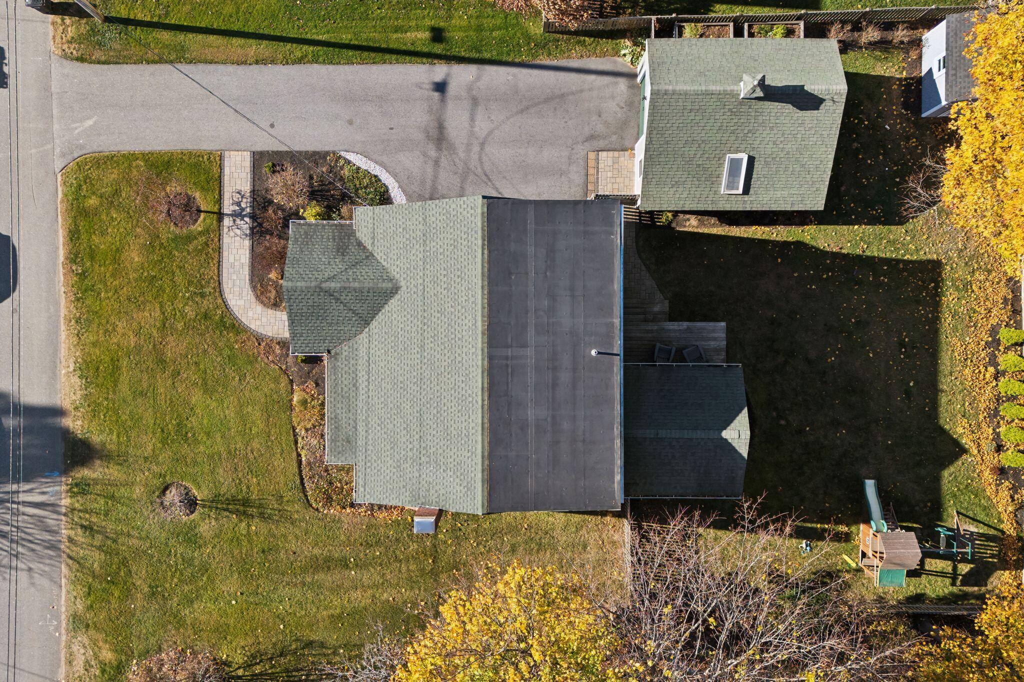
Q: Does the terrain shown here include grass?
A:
Yes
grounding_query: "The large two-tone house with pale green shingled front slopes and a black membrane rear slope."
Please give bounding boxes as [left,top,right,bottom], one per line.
[283,196,750,530]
